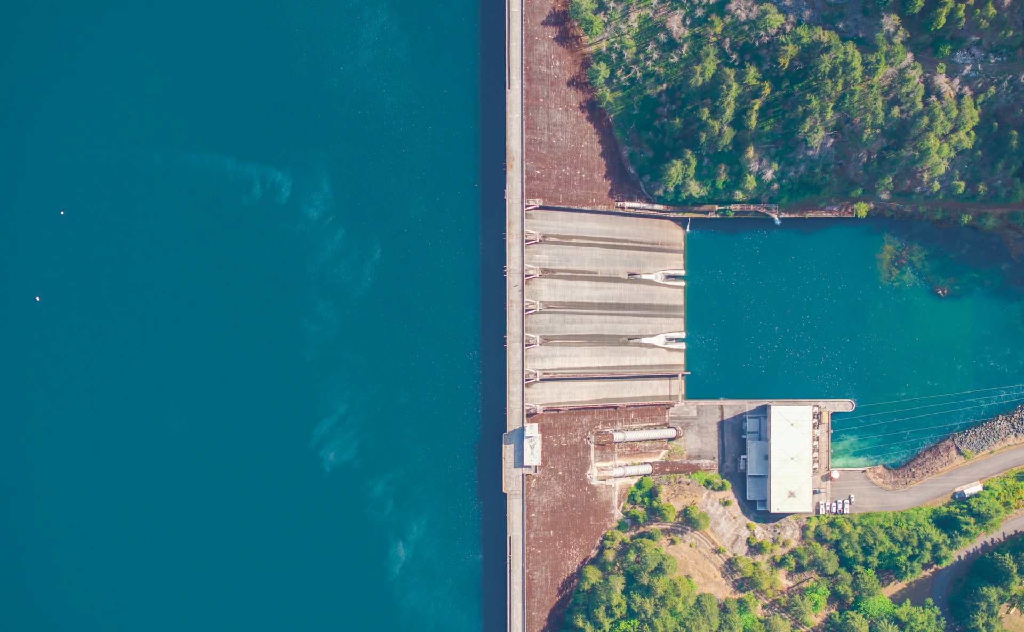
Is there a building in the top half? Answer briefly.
No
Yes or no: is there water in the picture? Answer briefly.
Yes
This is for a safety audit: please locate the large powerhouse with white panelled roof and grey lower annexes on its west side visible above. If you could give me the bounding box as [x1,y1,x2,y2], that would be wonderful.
[745,404,812,513]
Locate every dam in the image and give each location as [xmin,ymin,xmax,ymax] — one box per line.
[502,0,693,632]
